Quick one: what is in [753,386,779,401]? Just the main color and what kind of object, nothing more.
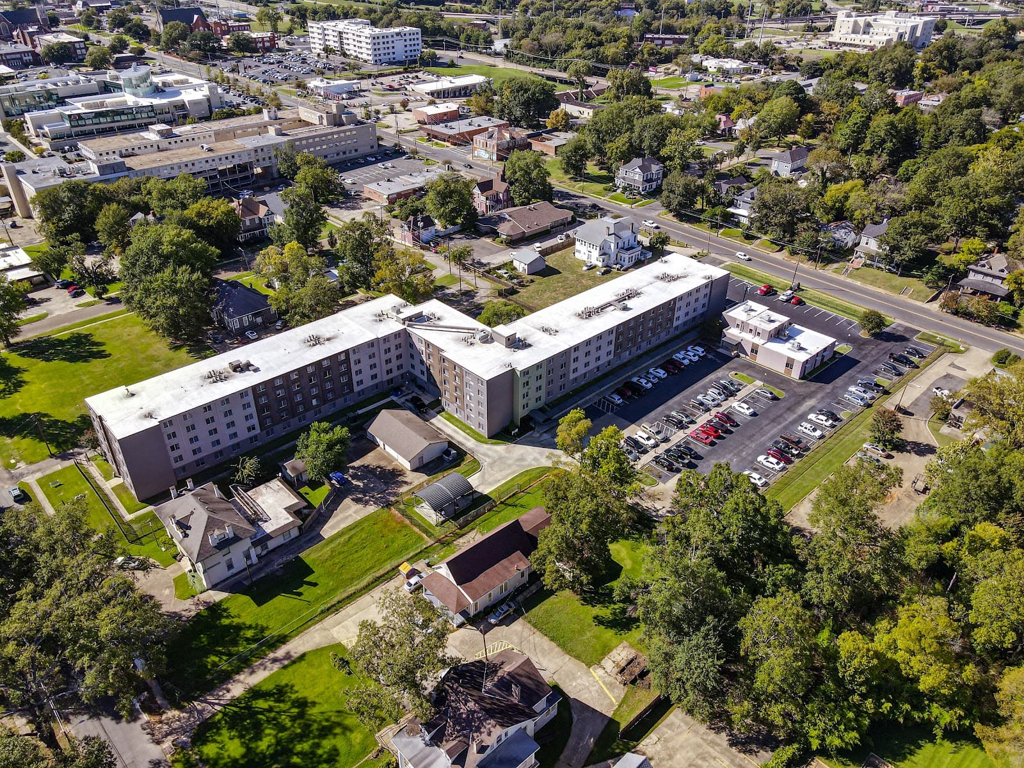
gray car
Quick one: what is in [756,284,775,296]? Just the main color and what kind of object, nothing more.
red vehicle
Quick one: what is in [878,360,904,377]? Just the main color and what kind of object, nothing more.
gray car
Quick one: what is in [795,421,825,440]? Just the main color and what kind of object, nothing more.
white vehicle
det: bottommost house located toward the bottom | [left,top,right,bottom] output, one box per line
[401,652,571,768]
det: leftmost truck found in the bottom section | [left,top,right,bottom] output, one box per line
[6,482,28,505]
